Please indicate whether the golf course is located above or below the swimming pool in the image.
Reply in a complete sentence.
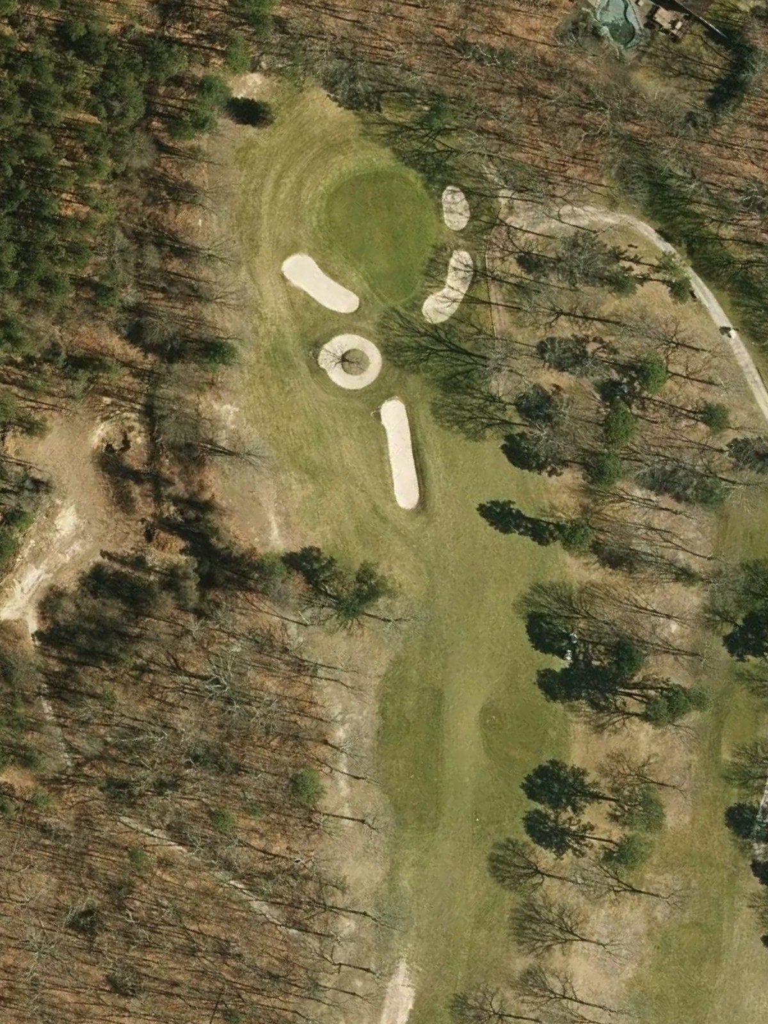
In the image, the golf course appears below the swimming pool.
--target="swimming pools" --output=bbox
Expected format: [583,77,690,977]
[596,0,642,50]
